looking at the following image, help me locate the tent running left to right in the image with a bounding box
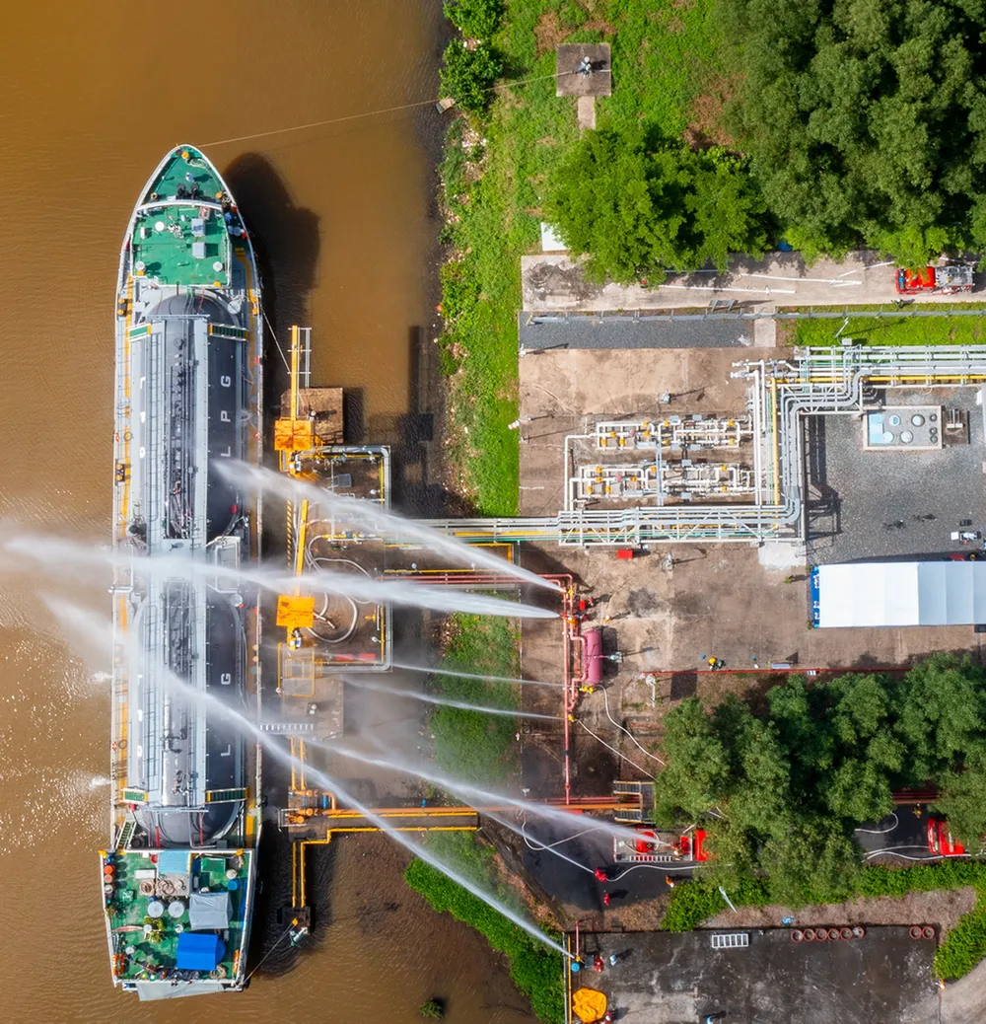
[811,562,986,626]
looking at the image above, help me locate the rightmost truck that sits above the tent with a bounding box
[891,264,986,293]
